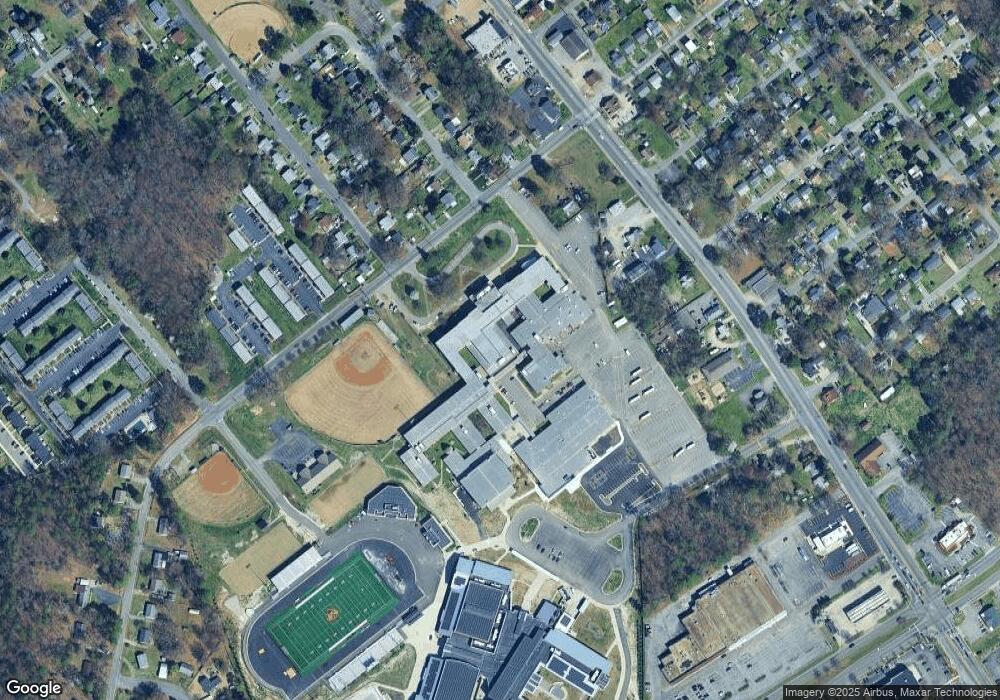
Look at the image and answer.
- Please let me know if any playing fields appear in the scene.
Yes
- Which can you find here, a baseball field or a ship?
baseball field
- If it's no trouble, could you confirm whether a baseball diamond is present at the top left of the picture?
Yes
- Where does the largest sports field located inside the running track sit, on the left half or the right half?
left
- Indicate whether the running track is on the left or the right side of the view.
left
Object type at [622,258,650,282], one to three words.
building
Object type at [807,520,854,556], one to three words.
building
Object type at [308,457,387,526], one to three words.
sports field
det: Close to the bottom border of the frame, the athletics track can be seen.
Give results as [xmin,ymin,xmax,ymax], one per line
[244,538,425,698]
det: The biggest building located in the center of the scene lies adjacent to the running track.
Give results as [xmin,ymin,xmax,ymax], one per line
[399,255,618,523]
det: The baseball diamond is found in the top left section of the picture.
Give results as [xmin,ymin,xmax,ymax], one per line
[190,0,292,64]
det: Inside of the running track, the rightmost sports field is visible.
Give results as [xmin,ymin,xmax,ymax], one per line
[266,553,399,676]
